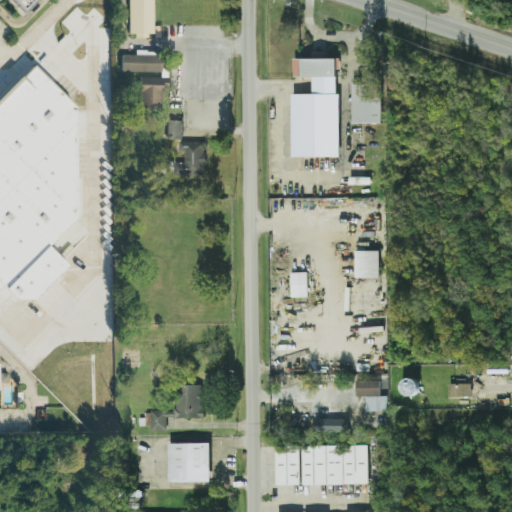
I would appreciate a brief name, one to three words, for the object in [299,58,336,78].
building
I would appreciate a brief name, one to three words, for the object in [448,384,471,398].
house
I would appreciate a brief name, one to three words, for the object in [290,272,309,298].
shed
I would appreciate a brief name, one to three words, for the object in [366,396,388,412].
shed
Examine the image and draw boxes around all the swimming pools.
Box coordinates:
[2,380,16,408]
